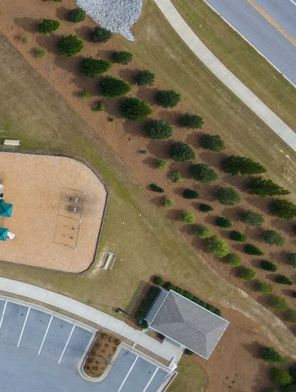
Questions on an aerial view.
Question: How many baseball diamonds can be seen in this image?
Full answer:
No baseball diamonds are visible.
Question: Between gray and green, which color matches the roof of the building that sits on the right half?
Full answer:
The roof of the building that sits on the right half looks gray in the image.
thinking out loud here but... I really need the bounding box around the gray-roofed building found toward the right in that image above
[146,288,230,359]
